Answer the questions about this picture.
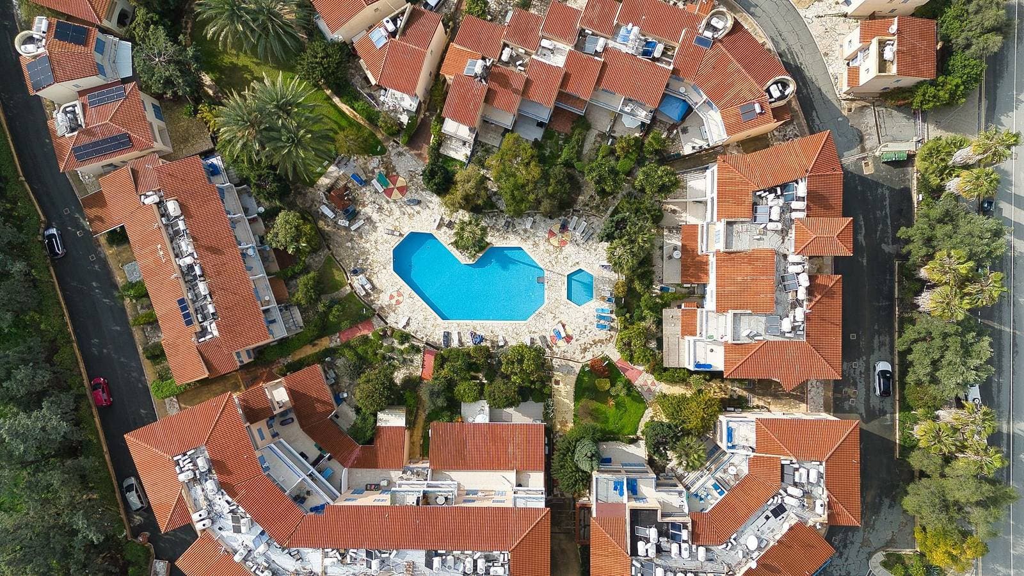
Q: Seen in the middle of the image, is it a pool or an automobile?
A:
pool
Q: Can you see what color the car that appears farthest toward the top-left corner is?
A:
black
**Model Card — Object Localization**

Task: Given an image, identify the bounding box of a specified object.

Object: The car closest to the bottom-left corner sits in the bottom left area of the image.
[123,476,149,512]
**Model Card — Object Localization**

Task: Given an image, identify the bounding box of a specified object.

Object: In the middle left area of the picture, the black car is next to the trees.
[43,227,69,260]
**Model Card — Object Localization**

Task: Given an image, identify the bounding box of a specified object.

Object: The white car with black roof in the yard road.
[872,360,893,397]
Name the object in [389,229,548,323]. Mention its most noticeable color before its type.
blue swimming pool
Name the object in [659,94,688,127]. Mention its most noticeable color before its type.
blue gazebo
